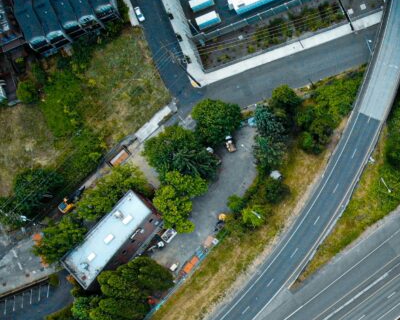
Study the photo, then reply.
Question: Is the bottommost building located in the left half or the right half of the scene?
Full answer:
The bottommost building appears in the left half of the scene.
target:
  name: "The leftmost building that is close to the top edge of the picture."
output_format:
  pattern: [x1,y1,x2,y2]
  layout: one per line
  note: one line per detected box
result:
[0,2,32,58]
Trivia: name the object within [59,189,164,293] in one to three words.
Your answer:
building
